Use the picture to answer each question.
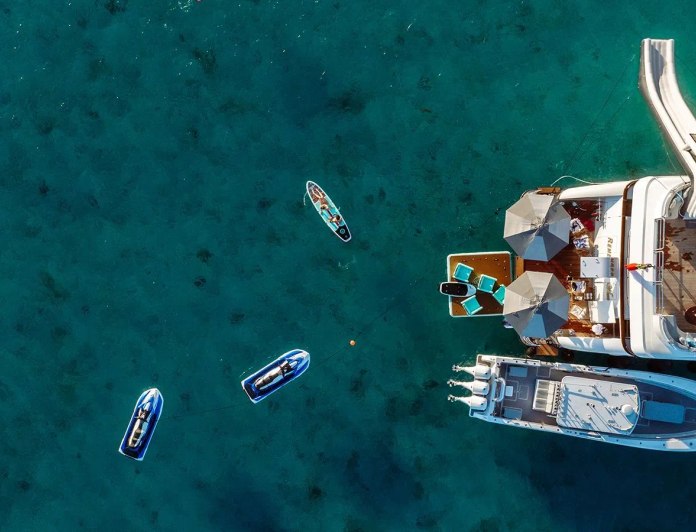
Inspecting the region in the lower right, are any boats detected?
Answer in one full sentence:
Yes, a boat shows up in the lower right.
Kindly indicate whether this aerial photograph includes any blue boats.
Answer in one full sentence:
Yes, looking at the shot, I can spot a blue boat.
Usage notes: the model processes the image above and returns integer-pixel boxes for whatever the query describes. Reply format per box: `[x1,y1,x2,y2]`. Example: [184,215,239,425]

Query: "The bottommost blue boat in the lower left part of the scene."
[120,389,164,461]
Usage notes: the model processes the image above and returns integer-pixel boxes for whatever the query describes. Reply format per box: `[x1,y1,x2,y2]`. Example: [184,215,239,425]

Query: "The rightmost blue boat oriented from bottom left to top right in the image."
[243,349,310,403]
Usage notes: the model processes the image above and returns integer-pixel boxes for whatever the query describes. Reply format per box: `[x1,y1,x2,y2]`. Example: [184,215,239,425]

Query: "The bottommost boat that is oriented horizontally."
[447,356,696,448]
